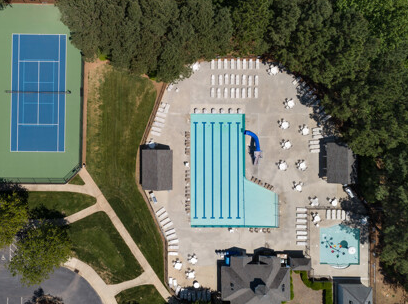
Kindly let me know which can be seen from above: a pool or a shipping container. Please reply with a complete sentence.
Of the two, only a pool appears.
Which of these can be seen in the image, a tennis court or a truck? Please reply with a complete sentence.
This aerial view contains a tennis court.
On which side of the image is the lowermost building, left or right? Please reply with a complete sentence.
You can find the lowermost building on the right side of the picture.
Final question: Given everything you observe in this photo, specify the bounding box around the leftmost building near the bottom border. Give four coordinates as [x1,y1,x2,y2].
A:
[220,254,290,304]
